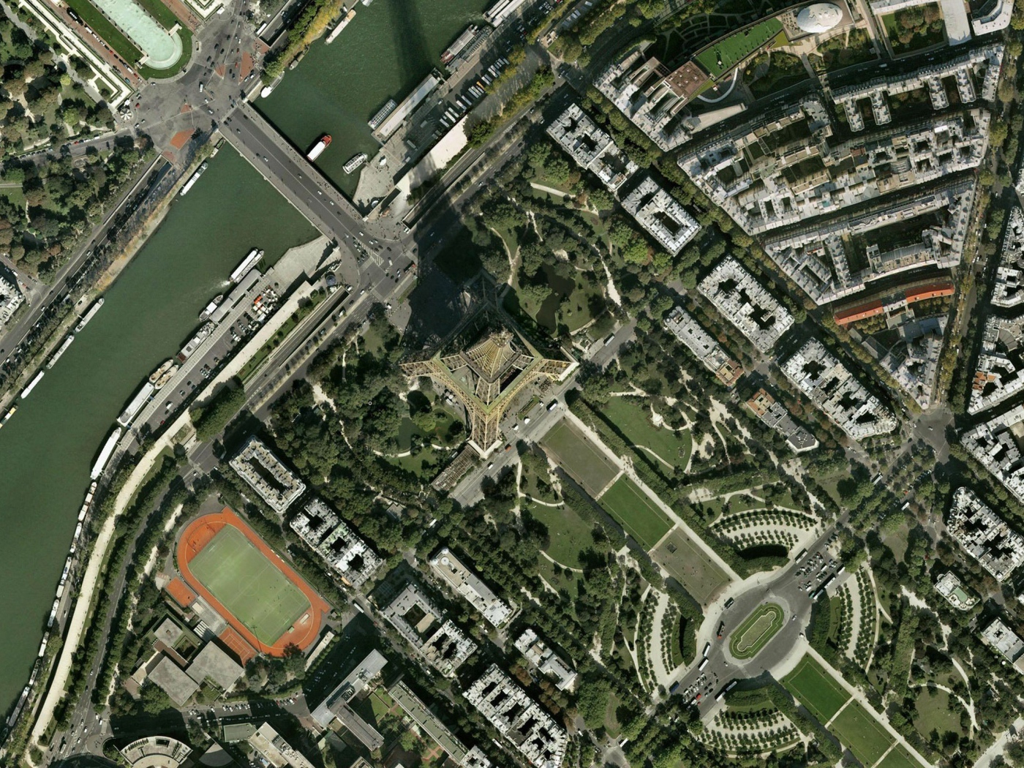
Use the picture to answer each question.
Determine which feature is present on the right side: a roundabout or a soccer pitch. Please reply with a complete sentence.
It is a roundabout that can be seen on the right side.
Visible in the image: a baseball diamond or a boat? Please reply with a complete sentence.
This aerial view contains a boat.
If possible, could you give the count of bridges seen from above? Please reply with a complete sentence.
I count just 1 bridge.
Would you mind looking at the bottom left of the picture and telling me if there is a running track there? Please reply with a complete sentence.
Yes, a running track shows up at the bottom left of the picture.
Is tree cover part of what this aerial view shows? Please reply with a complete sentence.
Yes, tree cover can be seen from above here.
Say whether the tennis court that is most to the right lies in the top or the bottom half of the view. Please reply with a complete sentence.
Seen from above, the tennis court that is most to the right lies in the bottom half of the view.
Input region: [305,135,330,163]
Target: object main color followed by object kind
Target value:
white boat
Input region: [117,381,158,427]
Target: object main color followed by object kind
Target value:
white boat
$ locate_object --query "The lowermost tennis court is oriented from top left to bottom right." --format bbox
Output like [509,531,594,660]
[219,626,258,666]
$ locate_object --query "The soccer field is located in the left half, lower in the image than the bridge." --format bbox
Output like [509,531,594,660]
[189,525,311,646]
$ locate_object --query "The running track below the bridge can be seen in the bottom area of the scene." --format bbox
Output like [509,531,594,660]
[178,506,329,658]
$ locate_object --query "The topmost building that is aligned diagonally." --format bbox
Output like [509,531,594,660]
[970,0,1013,38]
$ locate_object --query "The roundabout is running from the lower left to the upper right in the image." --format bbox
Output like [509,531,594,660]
[651,501,867,737]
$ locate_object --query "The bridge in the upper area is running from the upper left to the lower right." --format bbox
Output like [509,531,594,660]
[212,98,369,240]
